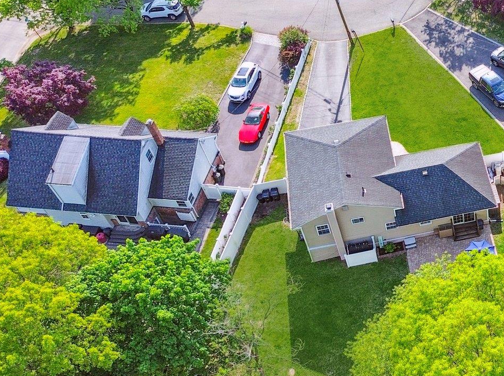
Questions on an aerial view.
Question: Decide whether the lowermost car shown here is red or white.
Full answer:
In this view, the lowermost car is red.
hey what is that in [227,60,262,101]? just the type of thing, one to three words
car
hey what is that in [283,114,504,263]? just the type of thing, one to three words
house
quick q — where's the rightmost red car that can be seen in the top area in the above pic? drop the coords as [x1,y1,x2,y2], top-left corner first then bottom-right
[238,104,272,145]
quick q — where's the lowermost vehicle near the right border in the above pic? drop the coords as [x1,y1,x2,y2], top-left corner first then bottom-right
[468,67,504,109]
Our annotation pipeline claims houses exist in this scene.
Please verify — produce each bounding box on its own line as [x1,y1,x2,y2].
[5,108,226,251]
[283,114,504,263]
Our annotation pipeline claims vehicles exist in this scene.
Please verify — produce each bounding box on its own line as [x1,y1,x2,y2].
[487,48,504,70]
[227,60,262,101]
[135,0,185,21]
[468,67,504,109]
[238,104,272,145]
